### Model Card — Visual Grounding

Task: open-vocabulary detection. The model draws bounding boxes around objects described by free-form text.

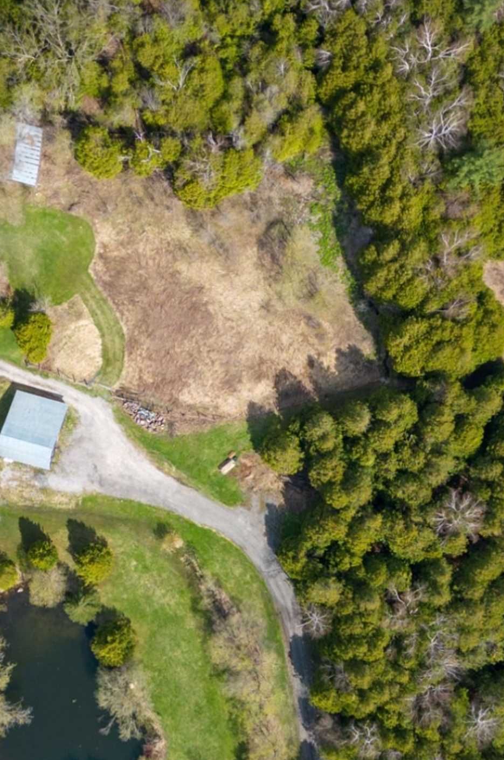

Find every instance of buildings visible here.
[0,390,68,470]
[13,125,43,188]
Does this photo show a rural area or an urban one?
rural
